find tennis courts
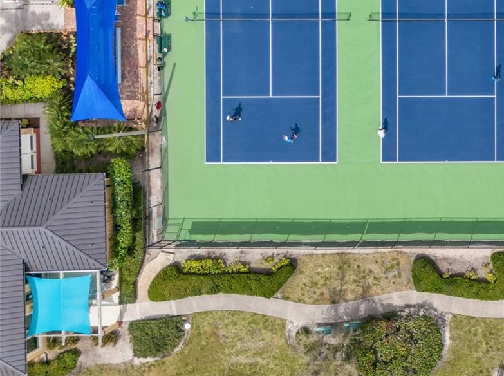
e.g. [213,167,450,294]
[204,0,336,163]
[380,0,504,163]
